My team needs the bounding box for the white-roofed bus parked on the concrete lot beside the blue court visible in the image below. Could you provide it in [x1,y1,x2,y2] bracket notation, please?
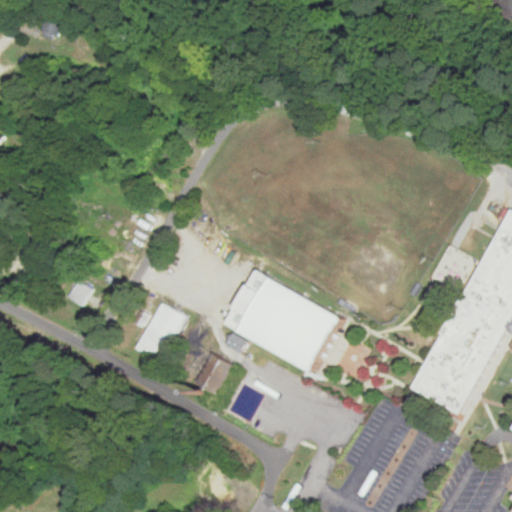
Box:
[252,378,280,400]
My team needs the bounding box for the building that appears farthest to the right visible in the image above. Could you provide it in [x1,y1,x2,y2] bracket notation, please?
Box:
[408,211,512,414]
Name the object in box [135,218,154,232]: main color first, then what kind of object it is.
white vehicle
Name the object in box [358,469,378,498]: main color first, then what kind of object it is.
white bus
